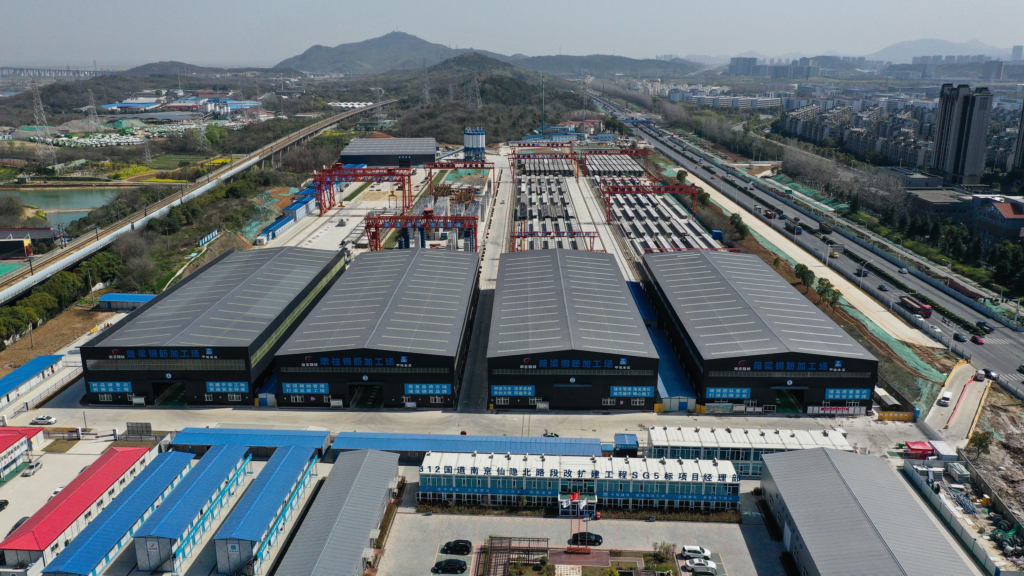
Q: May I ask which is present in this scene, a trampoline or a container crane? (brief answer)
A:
container crane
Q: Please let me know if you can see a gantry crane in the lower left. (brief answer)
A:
No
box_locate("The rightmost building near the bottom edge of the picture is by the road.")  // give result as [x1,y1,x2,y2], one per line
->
[760,446,984,576]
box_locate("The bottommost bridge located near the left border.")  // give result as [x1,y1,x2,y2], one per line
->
[0,101,388,310]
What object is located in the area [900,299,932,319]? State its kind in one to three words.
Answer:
vehicle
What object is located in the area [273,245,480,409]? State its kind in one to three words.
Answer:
shed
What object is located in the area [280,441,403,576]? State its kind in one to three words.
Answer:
building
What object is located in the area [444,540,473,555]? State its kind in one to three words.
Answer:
car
